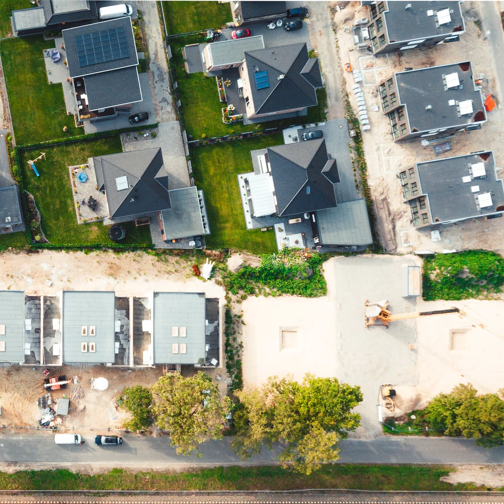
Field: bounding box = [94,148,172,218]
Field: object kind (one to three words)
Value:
house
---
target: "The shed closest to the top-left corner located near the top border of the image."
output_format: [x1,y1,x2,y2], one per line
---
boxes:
[12,7,47,37]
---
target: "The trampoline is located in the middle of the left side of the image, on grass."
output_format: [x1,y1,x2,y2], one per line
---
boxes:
[110,224,127,240]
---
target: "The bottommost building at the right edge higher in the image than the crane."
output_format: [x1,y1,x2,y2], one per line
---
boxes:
[398,151,504,228]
